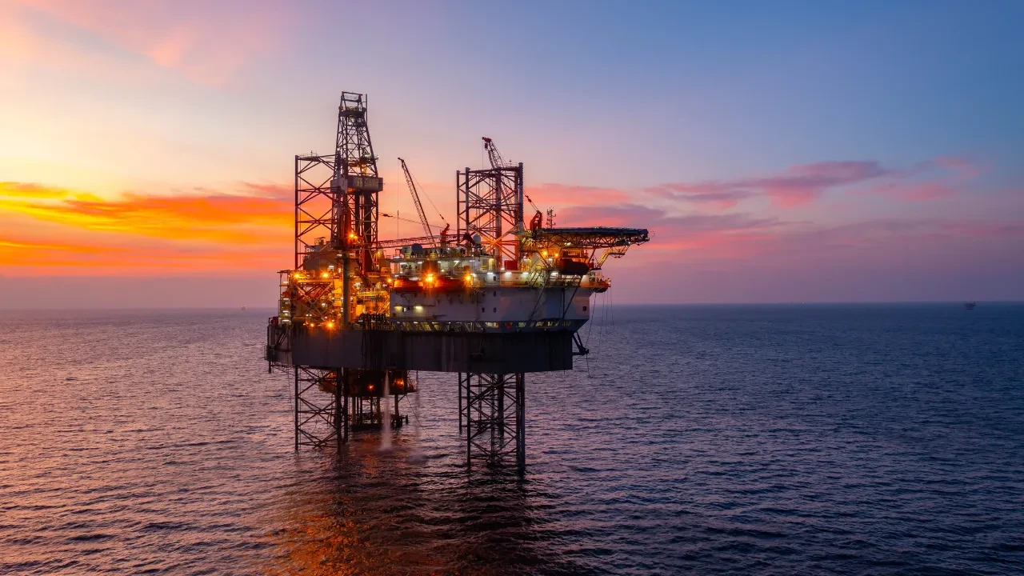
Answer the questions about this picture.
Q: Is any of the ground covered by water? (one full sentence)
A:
Yes, water can be seen from above here.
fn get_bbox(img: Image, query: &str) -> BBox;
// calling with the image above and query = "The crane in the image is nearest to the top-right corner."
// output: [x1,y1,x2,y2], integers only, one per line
[481,142,551,247]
